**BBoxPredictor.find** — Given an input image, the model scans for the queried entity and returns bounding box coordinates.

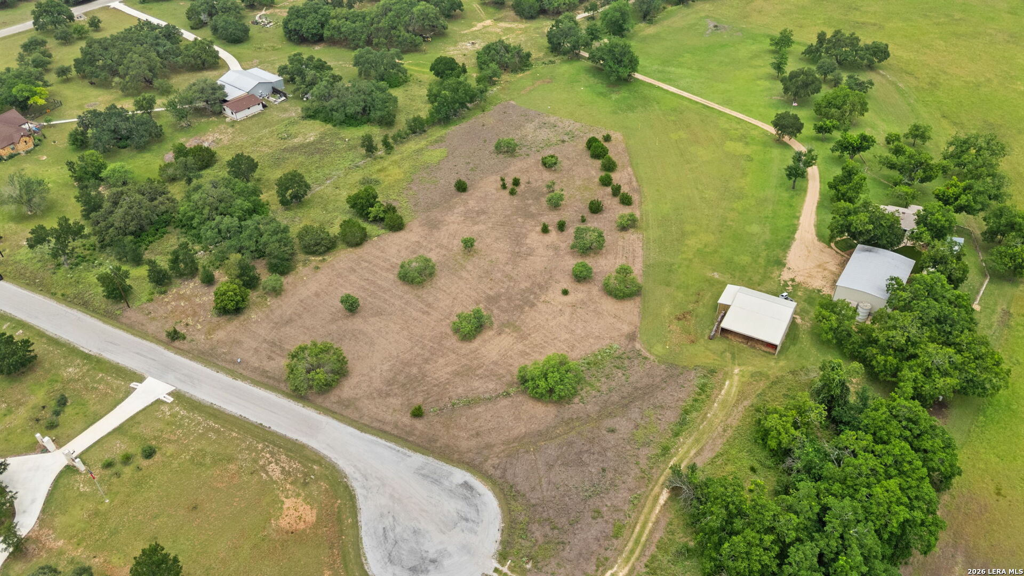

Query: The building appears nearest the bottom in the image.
[717,286,799,355]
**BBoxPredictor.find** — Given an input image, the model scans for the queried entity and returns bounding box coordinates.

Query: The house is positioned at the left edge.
[0,112,46,155]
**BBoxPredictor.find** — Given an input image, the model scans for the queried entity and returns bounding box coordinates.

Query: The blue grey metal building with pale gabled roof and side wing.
[216,68,283,101]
